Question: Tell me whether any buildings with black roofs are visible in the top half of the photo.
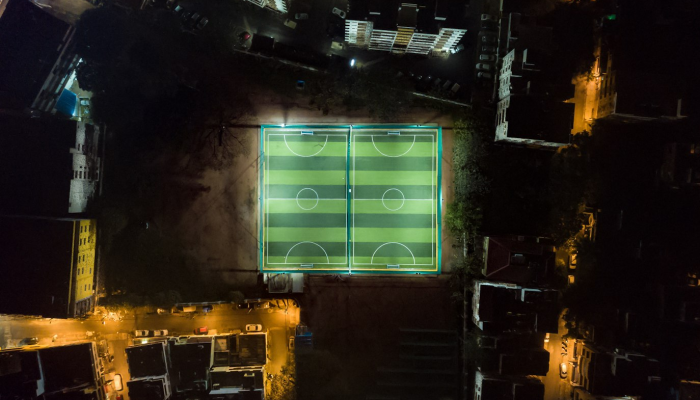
Yes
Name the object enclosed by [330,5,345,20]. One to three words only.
car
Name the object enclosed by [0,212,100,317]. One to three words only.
building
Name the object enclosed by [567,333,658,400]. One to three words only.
house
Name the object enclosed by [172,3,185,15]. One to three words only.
vehicle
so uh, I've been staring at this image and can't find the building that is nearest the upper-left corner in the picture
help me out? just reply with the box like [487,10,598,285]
[0,0,88,105]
